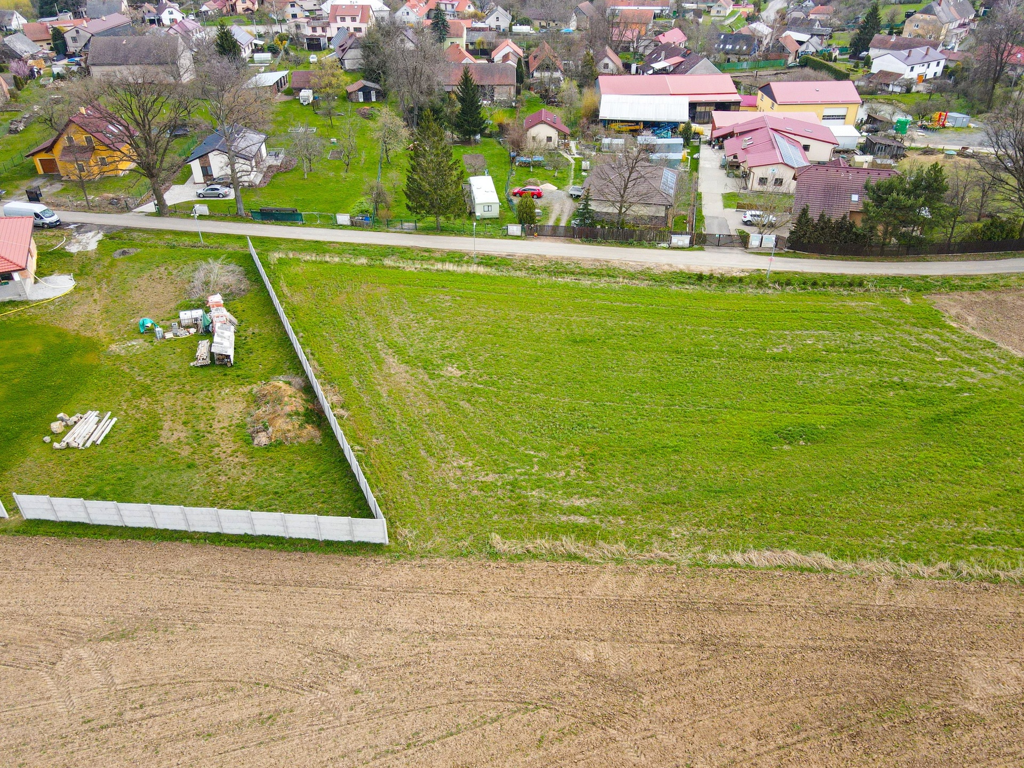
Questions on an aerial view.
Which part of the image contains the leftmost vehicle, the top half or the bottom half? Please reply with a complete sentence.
The leftmost vehicle is in the top half of the image.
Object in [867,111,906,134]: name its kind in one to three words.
shed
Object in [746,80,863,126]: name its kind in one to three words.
building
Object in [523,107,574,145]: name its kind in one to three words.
house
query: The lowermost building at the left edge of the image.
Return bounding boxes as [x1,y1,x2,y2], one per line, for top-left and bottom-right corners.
[0,212,43,316]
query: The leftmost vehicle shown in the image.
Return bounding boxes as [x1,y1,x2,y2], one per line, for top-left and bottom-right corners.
[3,198,63,223]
